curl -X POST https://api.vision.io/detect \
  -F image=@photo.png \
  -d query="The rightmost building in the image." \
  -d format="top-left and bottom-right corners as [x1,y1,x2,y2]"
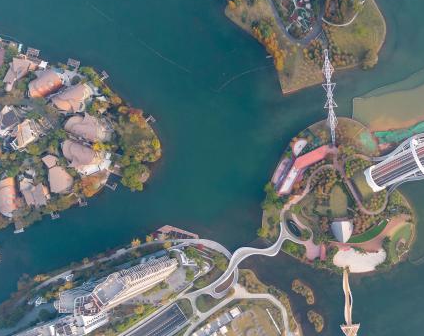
[331,220,352,243]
